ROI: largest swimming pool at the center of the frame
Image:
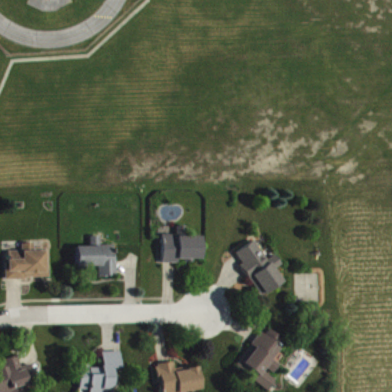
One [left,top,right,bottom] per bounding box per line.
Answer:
[158,203,186,223]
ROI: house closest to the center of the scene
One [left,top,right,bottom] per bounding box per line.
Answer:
[162,234,207,263]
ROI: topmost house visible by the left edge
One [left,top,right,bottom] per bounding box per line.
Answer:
[6,243,50,280]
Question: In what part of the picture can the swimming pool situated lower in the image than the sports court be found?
bottom right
